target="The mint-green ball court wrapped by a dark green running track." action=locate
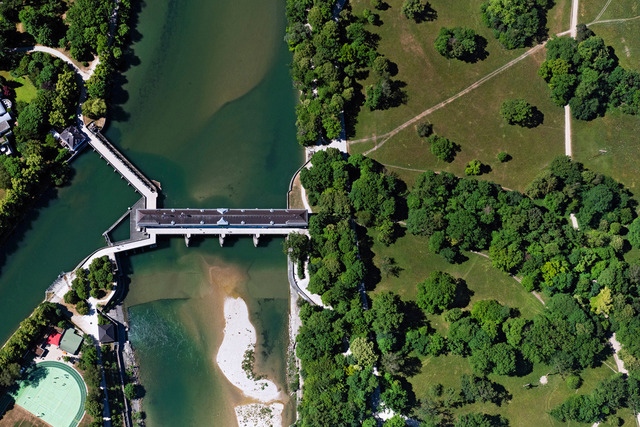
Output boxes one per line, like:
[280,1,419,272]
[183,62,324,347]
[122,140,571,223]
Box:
[4,359,86,427]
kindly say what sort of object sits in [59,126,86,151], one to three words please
house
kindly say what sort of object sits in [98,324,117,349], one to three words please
building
